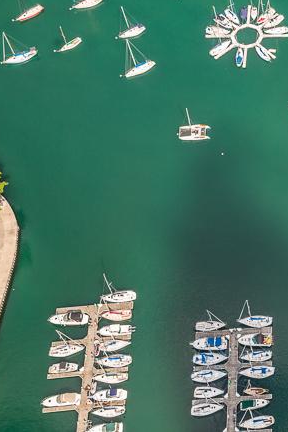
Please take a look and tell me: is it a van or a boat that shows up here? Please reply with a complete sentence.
The image shows a boat.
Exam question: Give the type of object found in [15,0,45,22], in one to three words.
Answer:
boat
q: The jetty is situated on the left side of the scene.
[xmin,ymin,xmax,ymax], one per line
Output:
[43,301,134,432]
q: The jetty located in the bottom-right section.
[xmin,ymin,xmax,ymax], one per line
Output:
[193,326,273,432]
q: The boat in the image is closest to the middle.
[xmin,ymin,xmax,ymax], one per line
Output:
[99,273,138,302]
